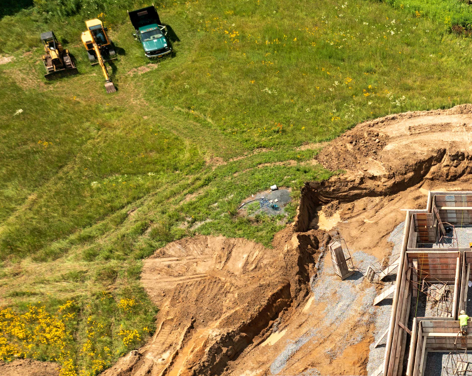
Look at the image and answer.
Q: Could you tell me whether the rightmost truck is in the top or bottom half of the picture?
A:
top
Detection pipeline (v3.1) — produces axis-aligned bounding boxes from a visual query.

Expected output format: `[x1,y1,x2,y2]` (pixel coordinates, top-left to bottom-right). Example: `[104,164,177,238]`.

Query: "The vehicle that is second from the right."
[80,18,119,89]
